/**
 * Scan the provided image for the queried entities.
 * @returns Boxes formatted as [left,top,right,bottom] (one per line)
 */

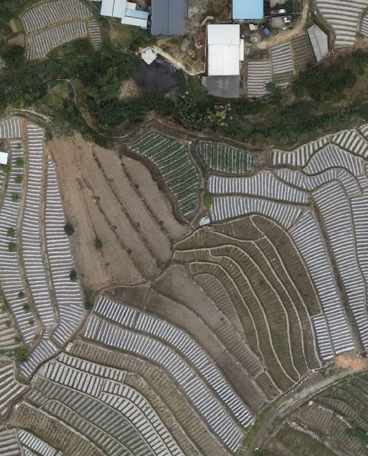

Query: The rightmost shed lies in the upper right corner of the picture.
[308,25,328,62]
